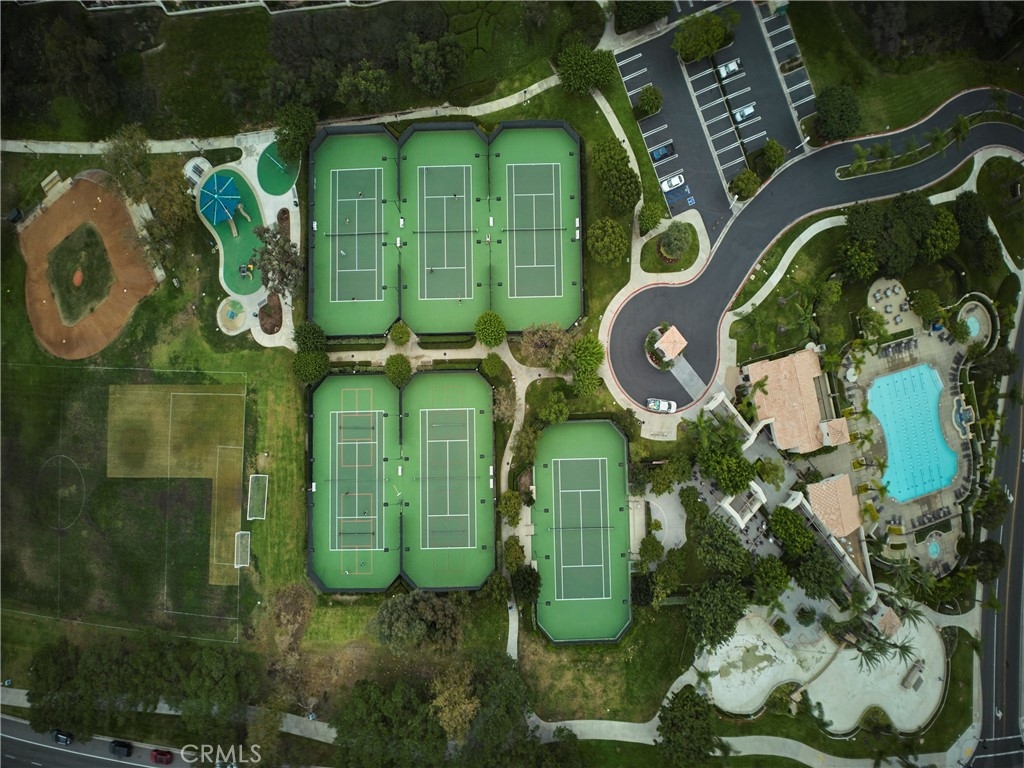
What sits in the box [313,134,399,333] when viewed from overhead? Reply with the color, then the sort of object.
green tennis court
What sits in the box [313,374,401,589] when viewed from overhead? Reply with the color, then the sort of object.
green tennis court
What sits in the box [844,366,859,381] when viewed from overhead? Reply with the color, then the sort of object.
white umbrella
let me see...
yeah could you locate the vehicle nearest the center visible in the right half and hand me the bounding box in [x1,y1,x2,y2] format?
[645,398,676,412]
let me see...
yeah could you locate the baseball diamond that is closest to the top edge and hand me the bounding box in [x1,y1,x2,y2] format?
[18,166,157,360]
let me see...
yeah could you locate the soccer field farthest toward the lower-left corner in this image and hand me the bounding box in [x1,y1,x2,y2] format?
[0,364,246,643]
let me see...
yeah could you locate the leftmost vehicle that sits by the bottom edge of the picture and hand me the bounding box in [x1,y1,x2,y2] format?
[48,729,76,747]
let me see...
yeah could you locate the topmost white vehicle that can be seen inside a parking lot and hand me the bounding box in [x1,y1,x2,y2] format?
[716,57,745,77]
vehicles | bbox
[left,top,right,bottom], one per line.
[148,748,175,766]
[716,57,745,77]
[48,729,76,747]
[107,739,135,757]
[730,102,756,120]
[660,173,686,192]
[648,142,674,161]
[645,398,676,412]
